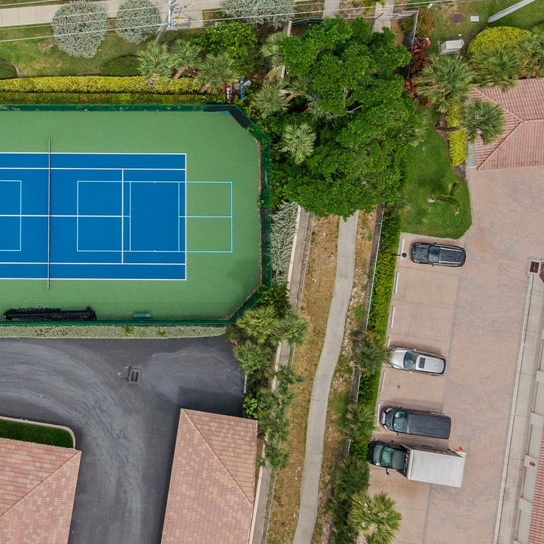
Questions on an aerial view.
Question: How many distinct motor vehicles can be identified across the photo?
4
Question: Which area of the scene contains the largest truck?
bottom right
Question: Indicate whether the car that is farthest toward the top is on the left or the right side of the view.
right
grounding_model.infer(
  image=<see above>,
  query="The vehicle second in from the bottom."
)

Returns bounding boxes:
[378,405,452,440]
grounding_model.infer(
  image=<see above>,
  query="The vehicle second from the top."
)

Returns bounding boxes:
[388,348,446,375]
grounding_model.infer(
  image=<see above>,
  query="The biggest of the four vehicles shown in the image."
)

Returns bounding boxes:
[367,438,465,486]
